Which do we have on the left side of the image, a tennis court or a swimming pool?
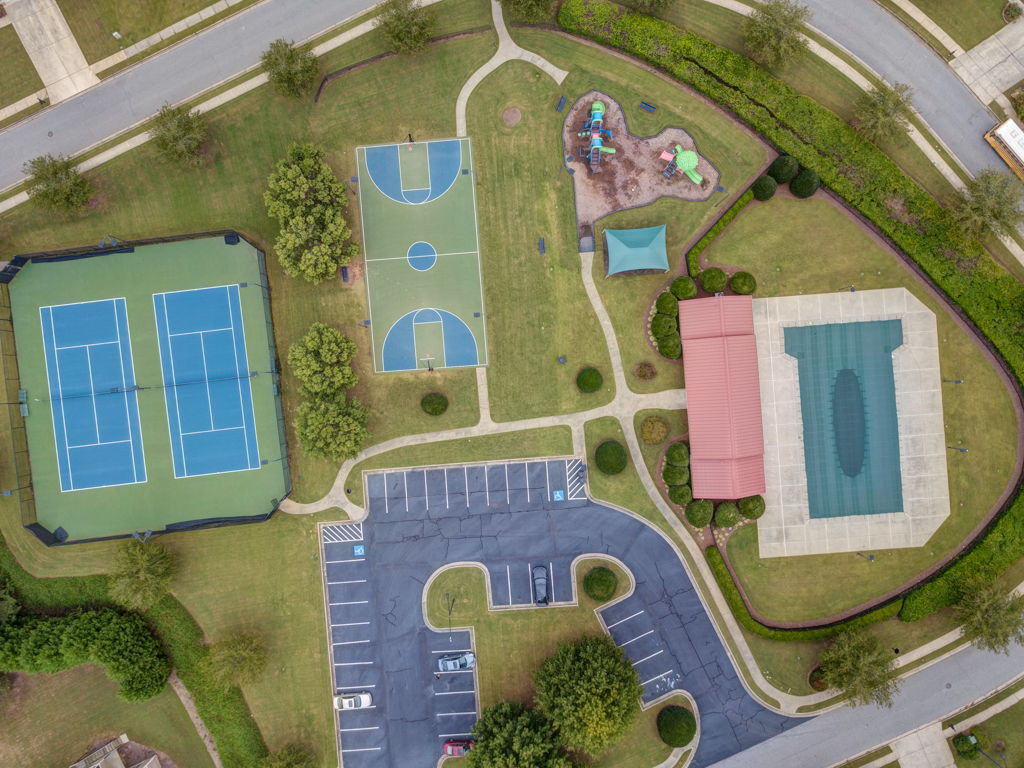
tennis court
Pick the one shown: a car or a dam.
car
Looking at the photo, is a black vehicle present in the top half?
No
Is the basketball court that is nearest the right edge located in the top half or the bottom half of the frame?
top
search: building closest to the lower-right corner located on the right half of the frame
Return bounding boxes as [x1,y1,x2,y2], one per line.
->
[679,295,767,499]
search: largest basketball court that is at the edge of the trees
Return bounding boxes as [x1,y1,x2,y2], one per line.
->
[355,136,489,375]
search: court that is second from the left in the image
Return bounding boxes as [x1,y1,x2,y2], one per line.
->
[152,284,260,478]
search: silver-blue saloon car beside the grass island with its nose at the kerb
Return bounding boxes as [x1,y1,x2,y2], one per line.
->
[438,652,476,672]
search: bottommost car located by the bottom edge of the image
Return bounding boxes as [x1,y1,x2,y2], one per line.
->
[443,739,474,758]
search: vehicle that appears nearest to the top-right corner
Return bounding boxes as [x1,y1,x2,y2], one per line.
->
[986,114,1024,176]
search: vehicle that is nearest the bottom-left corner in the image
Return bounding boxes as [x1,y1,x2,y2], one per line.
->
[333,693,373,712]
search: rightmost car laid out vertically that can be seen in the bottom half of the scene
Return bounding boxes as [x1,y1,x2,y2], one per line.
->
[532,567,549,606]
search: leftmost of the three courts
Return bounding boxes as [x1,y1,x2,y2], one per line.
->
[39,297,146,492]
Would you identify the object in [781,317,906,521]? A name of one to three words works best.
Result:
swimming pool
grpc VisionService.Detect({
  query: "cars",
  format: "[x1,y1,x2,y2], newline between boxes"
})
[438,652,476,672]
[532,567,549,606]
[333,693,373,712]
[443,739,474,758]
